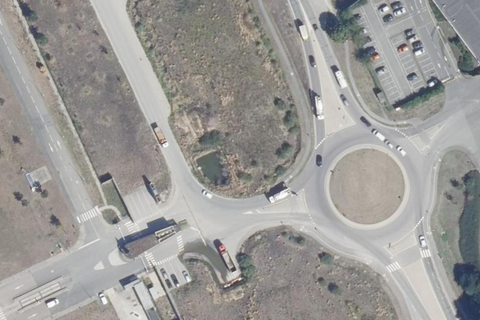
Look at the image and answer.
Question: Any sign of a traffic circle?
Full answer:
Yes, there's a traffic circle down there.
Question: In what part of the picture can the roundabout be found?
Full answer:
The roundabout is located in the right region of the scene.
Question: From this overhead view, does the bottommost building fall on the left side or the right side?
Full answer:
The bottommost building is on the left side of the image.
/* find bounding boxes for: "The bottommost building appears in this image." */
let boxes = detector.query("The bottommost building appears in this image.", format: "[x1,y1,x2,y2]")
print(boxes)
[134,282,160,320]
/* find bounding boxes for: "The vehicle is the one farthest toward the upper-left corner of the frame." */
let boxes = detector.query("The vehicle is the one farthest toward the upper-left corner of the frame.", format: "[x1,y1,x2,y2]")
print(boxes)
[154,125,168,146]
